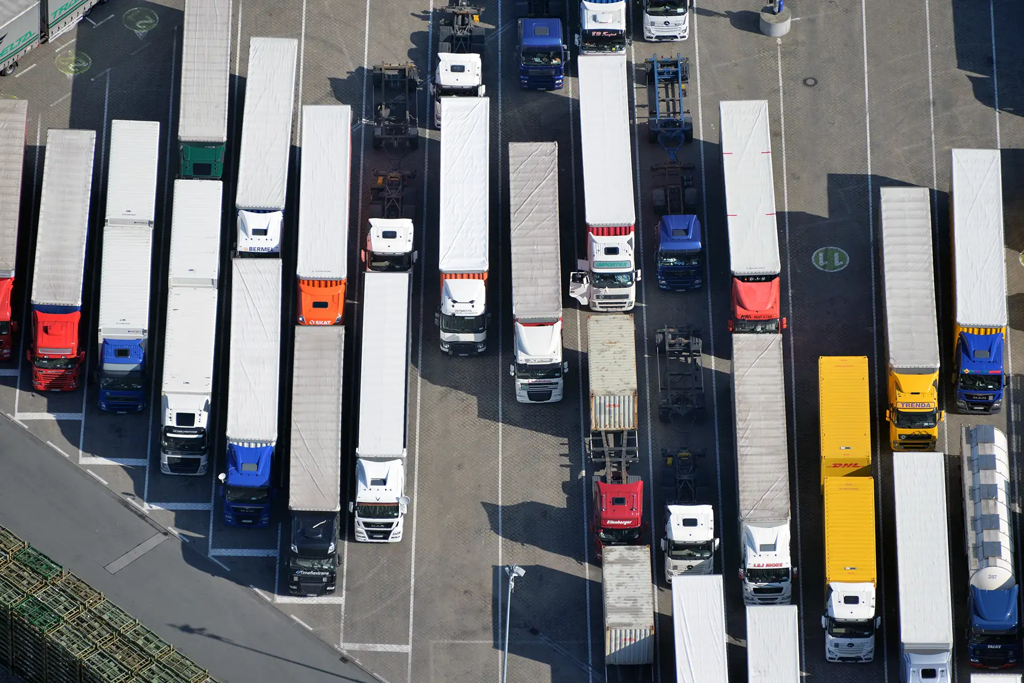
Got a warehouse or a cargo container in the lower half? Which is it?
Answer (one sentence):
The feature located in the lower half is a cargo container.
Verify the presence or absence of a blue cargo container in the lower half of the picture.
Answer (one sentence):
No, I see no blue cargo container in the lower half of the picture.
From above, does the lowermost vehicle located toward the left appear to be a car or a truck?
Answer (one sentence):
From above, the lowermost vehicle located toward the left can be identified as a truck.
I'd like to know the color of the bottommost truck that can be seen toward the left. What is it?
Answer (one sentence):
In this view, the bottommost truck that can be seen toward the left is black.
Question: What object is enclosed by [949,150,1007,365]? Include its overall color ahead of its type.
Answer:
white trailer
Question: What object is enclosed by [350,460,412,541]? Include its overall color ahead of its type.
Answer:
white truck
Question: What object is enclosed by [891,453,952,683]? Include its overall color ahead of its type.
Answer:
white trailer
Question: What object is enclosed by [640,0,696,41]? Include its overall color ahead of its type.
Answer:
white truck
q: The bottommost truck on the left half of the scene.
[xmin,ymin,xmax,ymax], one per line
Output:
[282,516,343,595]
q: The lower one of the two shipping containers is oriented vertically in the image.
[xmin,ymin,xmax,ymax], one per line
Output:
[601,546,655,666]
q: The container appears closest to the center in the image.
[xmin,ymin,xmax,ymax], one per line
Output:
[586,315,638,433]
